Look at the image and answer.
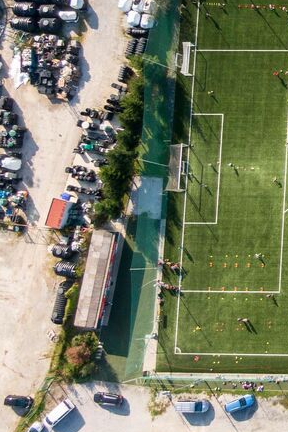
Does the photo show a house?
No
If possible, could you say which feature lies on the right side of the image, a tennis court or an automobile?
automobile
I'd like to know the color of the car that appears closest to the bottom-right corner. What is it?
blue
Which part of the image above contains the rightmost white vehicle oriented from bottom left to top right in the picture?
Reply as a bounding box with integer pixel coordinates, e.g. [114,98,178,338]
[43,398,80,427]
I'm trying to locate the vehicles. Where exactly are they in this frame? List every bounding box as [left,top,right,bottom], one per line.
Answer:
[92,391,125,407]
[4,395,35,409]
[223,394,257,414]
[26,420,46,432]
[174,400,212,416]
[43,398,80,427]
